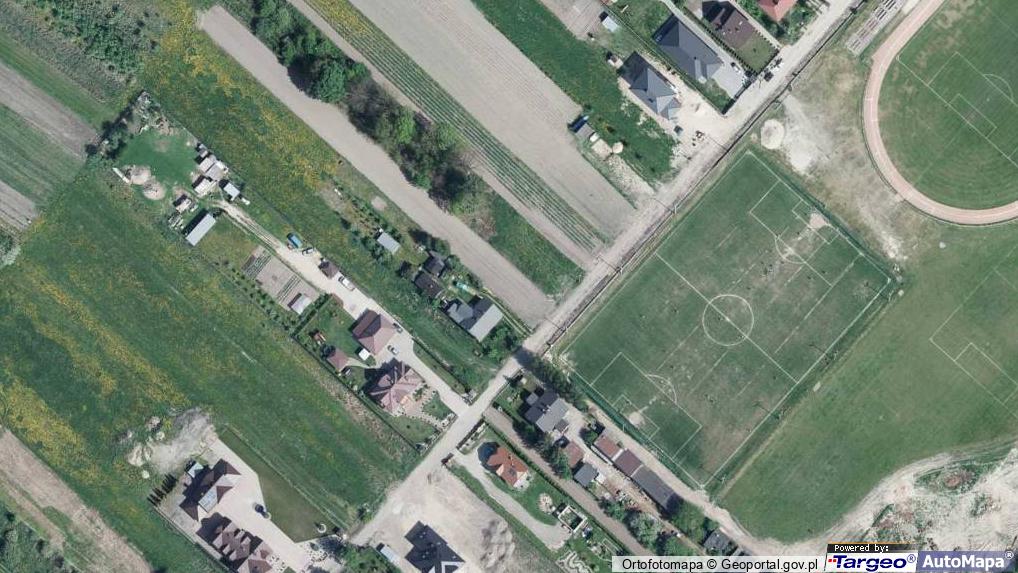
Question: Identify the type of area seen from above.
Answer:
sports ground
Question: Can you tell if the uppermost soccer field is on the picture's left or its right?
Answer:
right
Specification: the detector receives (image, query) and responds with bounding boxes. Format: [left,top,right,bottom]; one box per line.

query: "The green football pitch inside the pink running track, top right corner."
[877,0,1018,211]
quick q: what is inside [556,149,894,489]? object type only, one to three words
soccer field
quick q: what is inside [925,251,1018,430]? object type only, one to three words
soccer field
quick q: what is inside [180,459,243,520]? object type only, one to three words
house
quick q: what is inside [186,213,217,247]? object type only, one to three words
barn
